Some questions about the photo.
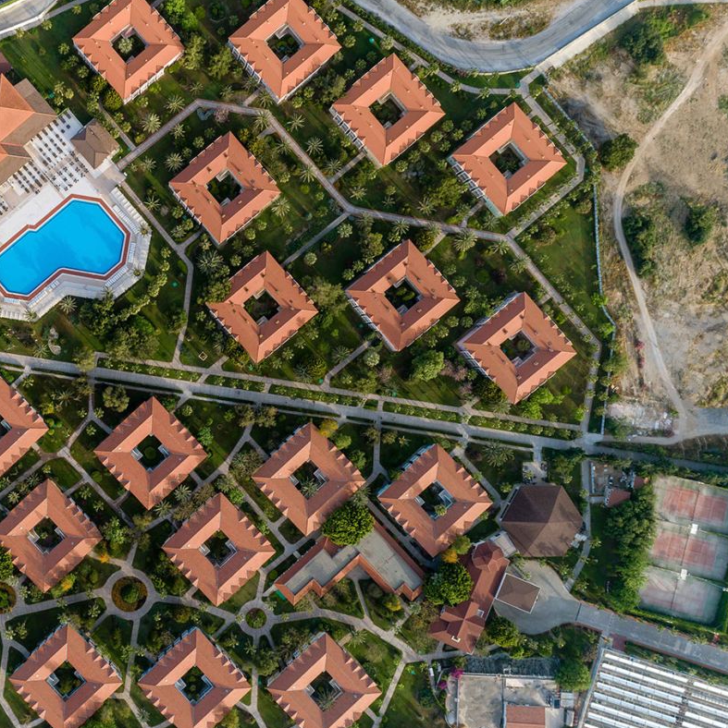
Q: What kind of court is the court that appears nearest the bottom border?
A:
tennis court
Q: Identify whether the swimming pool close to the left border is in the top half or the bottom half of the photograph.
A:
top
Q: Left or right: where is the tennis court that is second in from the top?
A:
right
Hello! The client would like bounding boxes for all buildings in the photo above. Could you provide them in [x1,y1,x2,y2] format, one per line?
[269,633,380,728]
[229,0,341,101]
[377,444,491,557]
[169,132,281,243]
[443,672,564,728]
[434,538,510,655]
[70,119,120,168]
[163,493,276,606]
[205,251,316,363]
[604,487,631,507]
[573,647,728,728]
[9,623,122,728]
[459,292,574,404]
[449,103,565,216]
[499,486,584,557]
[139,627,251,728]
[0,378,47,477]
[275,526,424,605]
[331,53,444,167]
[346,238,458,350]
[0,479,102,592]
[95,397,207,510]
[73,0,183,101]
[0,54,58,187]
[631,477,648,490]
[252,424,365,535]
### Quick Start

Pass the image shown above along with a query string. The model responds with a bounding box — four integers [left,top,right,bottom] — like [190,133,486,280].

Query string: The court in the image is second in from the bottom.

[648,520,728,584]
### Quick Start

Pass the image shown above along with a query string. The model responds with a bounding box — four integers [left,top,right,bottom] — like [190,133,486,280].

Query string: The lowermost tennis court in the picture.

[635,567,727,627]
